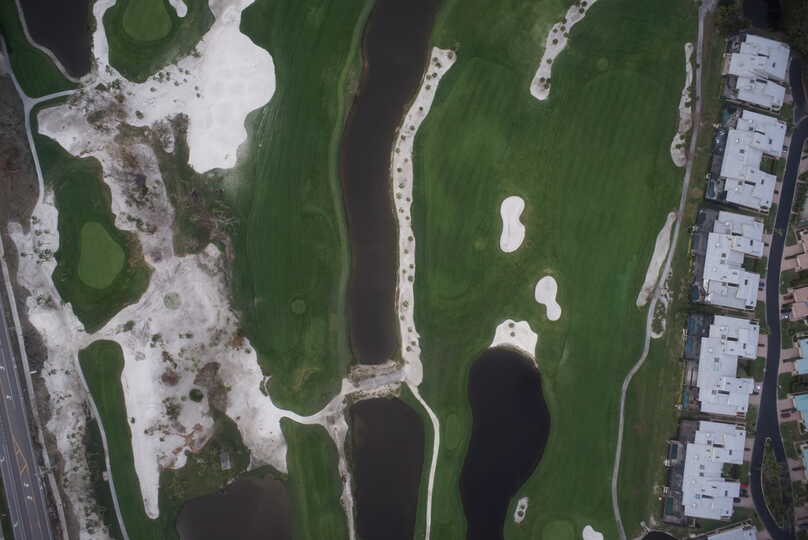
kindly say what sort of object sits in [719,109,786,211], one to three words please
house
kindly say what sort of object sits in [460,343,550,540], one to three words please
pond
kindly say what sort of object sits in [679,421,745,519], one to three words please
house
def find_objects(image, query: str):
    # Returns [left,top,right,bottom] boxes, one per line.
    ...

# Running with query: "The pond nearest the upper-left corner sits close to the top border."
[21,0,92,78]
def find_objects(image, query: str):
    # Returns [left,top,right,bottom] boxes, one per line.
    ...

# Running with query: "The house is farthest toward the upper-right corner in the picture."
[727,34,790,108]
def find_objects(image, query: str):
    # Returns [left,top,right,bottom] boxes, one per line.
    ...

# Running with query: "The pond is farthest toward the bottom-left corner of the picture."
[176,472,291,540]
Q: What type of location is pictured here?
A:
golf course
